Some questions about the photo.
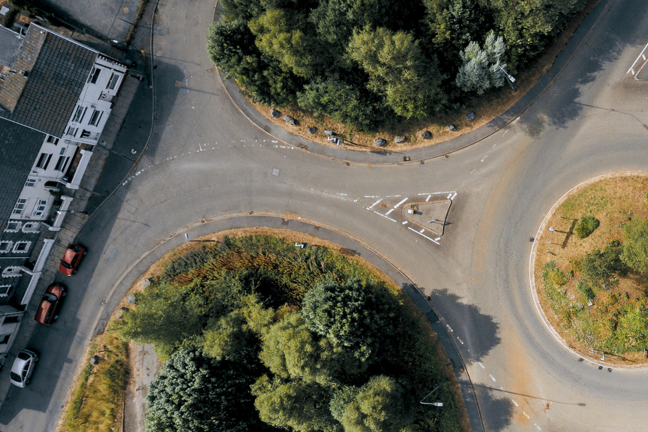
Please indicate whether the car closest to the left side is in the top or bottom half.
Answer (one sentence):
It is in the bottom half that the car closest to the left side appears.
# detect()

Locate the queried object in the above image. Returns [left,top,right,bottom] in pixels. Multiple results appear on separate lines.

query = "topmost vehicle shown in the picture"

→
[59,240,90,278]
